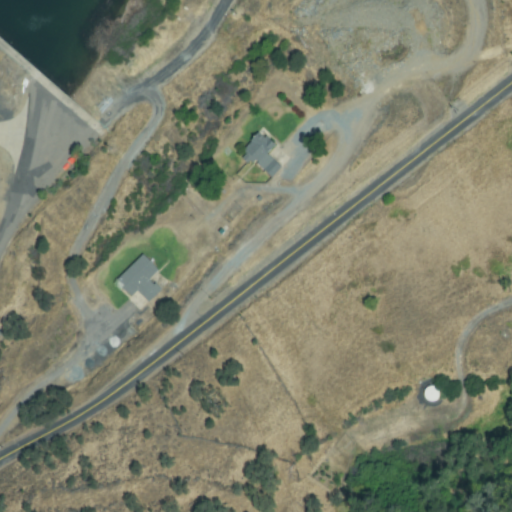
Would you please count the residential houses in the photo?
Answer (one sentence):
The picture shows 2 residential houses.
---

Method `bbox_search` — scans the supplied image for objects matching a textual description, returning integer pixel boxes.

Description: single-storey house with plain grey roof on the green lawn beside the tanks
[118,254,160,301]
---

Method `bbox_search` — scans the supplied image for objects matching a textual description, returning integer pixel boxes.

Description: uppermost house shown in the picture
[238,132,282,176]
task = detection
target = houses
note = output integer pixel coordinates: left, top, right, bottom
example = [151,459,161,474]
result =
[238,132,282,176]
[118,254,160,301]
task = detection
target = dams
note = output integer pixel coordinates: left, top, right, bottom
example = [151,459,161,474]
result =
[0,38,104,134]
